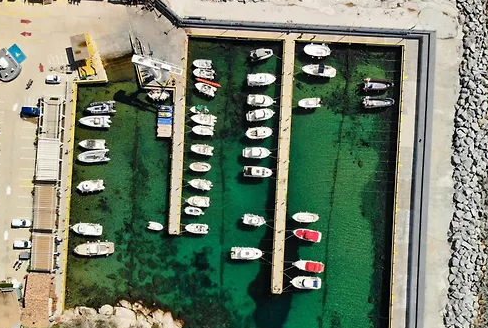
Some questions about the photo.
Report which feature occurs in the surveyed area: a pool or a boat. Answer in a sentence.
Of the two, only a boat appears.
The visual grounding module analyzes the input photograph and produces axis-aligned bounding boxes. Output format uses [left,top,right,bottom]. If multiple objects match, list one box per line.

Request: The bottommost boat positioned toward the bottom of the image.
[283,273,321,290]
